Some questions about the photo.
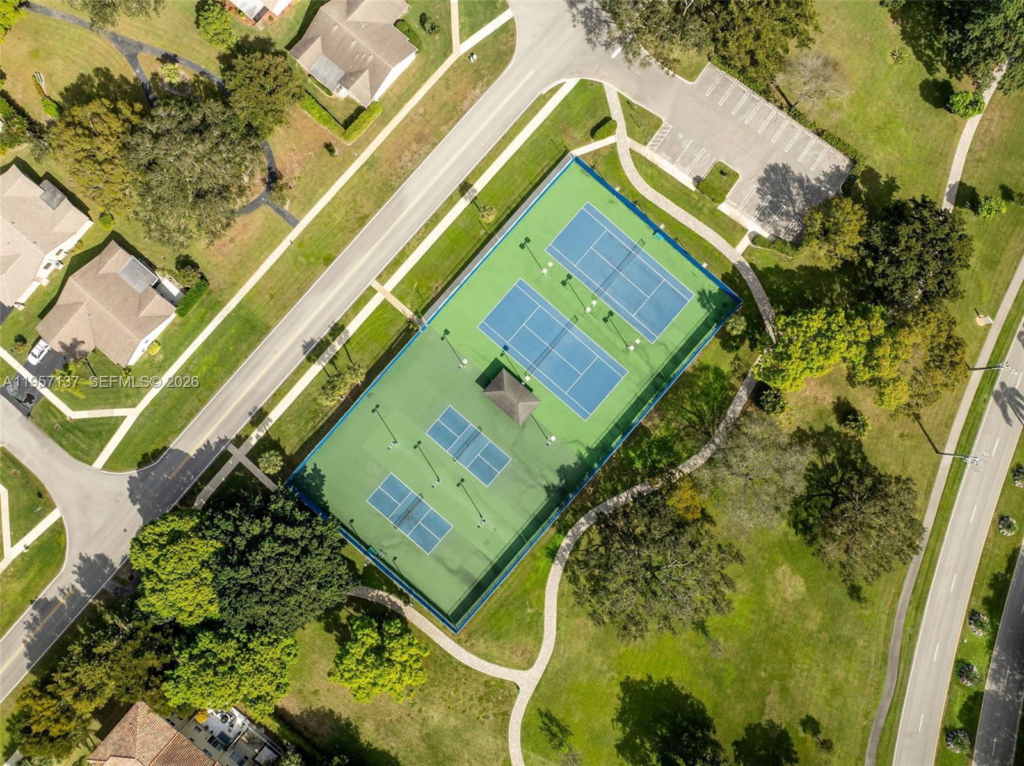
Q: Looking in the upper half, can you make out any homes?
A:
Yes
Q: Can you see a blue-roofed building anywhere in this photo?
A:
No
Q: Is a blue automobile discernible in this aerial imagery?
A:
No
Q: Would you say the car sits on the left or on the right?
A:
left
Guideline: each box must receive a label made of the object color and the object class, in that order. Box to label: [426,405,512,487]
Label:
blue sports court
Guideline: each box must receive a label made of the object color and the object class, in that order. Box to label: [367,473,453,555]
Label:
blue sports court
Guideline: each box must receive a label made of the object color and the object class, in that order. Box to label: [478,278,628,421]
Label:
blue tennis court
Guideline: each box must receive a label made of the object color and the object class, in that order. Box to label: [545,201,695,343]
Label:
blue tennis court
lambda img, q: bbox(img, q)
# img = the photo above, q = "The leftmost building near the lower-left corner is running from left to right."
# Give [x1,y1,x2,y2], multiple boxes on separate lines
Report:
[89,694,252,766]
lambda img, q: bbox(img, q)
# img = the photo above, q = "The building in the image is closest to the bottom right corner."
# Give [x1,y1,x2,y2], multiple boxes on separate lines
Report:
[483,368,541,425]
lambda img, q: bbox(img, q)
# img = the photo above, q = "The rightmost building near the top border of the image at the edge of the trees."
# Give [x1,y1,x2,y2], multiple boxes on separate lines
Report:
[291,0,418,108]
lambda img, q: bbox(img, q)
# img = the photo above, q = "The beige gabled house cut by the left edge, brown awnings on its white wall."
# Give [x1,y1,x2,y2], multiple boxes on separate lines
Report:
[0,164,96,306]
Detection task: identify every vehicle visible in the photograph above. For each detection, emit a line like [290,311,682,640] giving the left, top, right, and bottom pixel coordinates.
[28,338,53,367]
